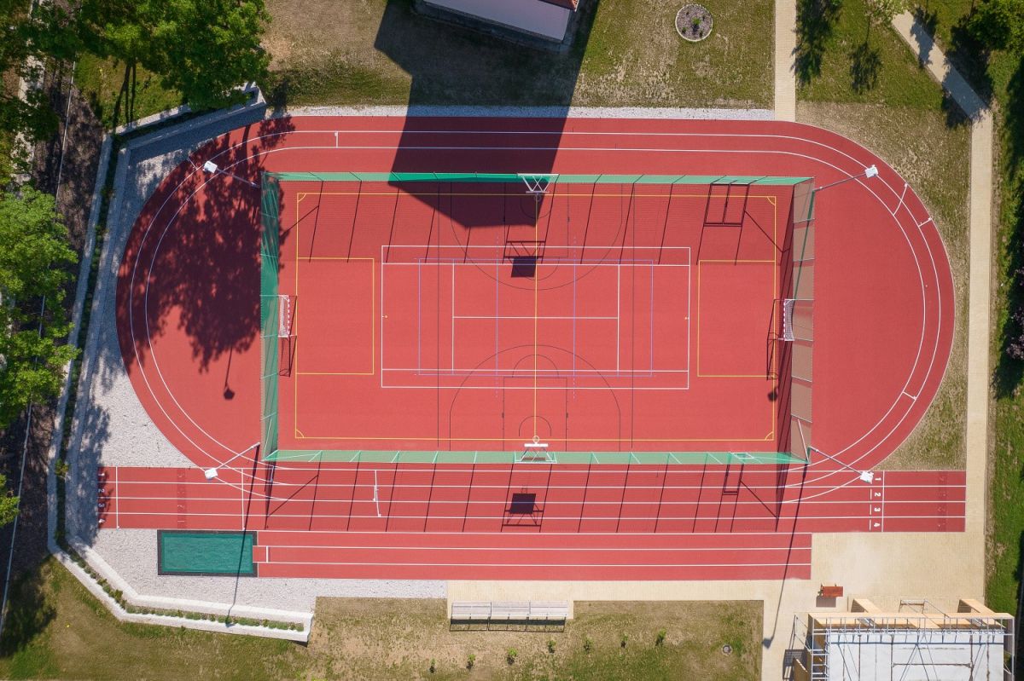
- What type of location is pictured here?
sports ground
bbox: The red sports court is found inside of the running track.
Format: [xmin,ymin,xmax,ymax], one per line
[278,182,793,452]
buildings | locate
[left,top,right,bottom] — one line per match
[794,600,1018,681]
[428,0,582,43]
